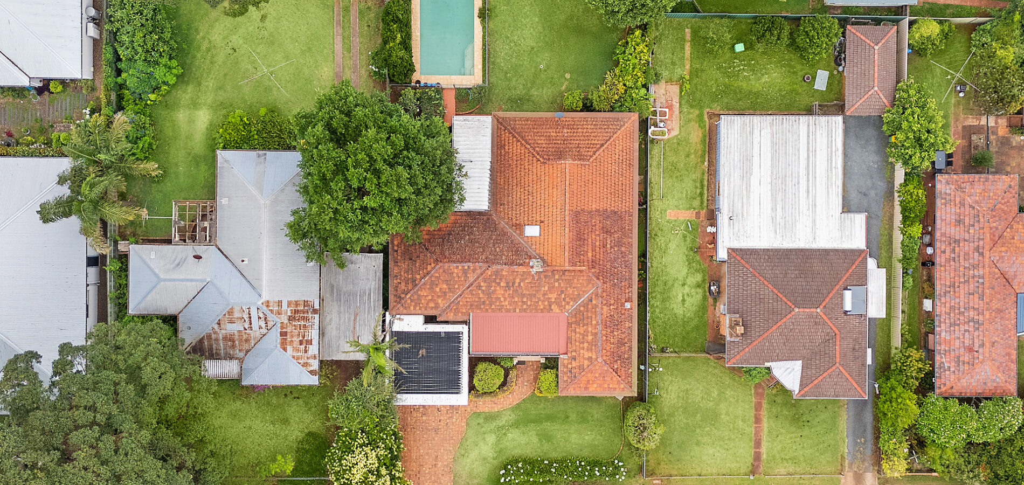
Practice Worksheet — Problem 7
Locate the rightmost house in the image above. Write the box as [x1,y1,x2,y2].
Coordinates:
[931,173,1024,398]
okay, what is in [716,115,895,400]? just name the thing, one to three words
house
